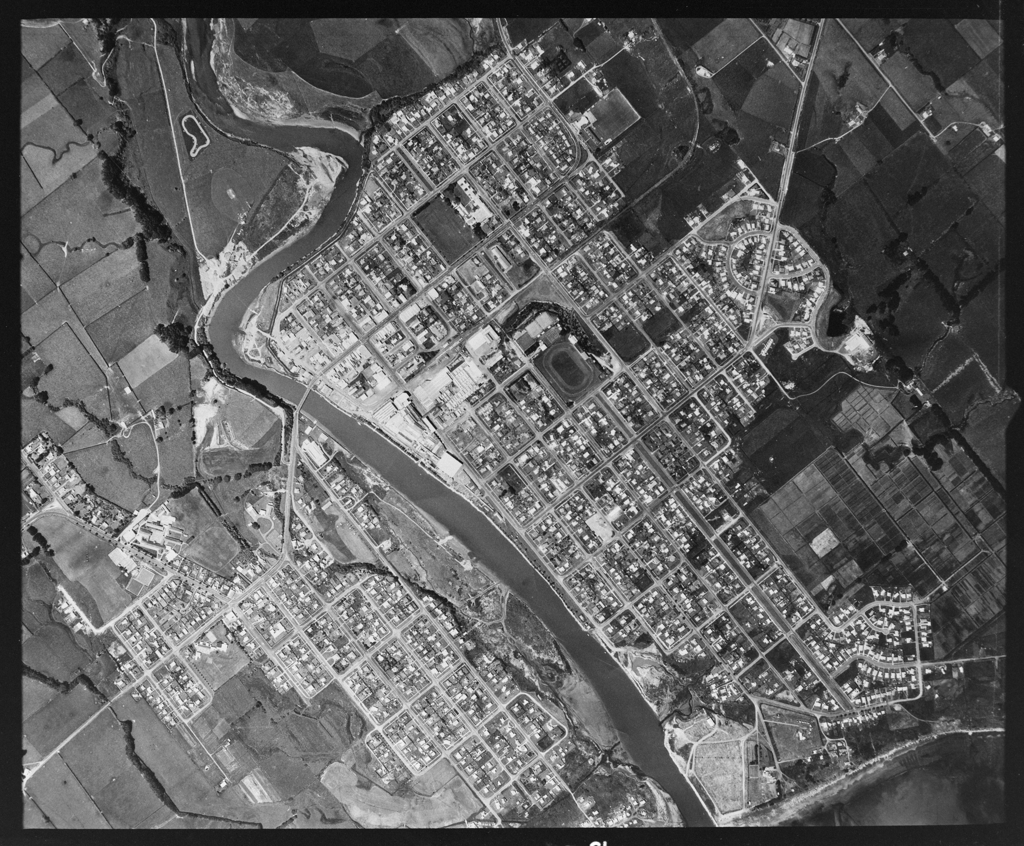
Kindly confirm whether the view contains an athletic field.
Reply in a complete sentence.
Yes, this view includes an athletic field.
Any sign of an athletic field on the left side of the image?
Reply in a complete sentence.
Yes, I can see an athletic field on the left side of the image.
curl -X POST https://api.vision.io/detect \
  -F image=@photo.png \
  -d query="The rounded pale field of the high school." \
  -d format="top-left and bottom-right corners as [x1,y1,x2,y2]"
[191,524,239,574]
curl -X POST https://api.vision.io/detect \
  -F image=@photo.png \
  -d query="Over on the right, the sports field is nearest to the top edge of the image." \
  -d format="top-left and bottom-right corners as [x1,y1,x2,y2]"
[590,88,641,141]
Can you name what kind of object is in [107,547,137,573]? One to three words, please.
building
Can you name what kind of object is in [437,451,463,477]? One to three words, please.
building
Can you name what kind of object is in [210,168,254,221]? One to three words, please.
sports field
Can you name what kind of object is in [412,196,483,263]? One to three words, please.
sports field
